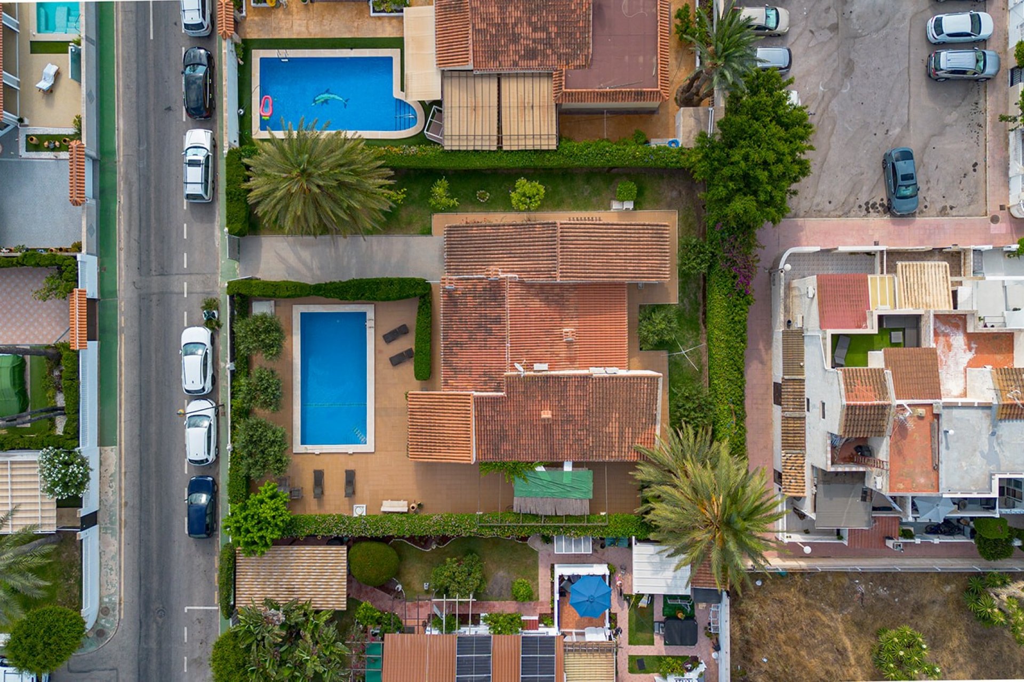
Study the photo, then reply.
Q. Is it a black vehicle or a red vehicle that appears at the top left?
black vehicle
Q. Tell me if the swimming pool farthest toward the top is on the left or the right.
left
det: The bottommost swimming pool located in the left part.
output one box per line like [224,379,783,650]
[293,304,375,453]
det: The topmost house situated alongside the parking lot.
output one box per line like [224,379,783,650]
[435,0,672,117]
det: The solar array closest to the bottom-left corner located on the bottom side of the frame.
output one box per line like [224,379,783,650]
[457,636,491,682]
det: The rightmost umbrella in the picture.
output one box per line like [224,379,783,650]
[908,495,957,530]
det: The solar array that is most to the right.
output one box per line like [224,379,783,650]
[521,636,555,682]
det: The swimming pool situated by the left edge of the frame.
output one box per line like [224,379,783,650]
[29,0,79,40]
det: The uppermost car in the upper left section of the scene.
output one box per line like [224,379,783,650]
[177,0,218,40]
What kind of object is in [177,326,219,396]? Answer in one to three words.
car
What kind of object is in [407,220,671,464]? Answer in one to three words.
house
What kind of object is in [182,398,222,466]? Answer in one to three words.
car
